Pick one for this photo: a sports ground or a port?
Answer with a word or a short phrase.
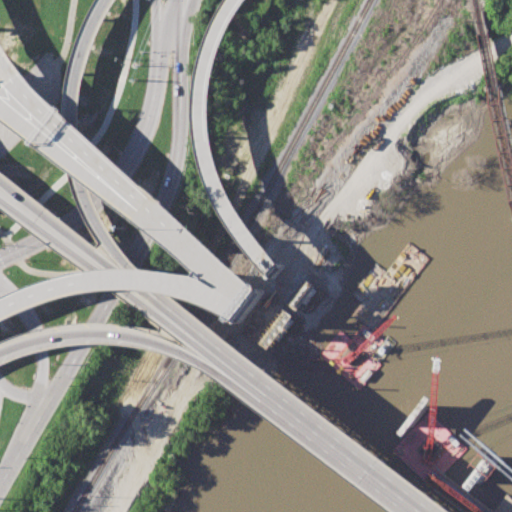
port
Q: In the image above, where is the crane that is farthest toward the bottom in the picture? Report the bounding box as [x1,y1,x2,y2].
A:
[422,354,452,460]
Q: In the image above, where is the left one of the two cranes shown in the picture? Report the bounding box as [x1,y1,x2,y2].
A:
[322,316,398,370]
